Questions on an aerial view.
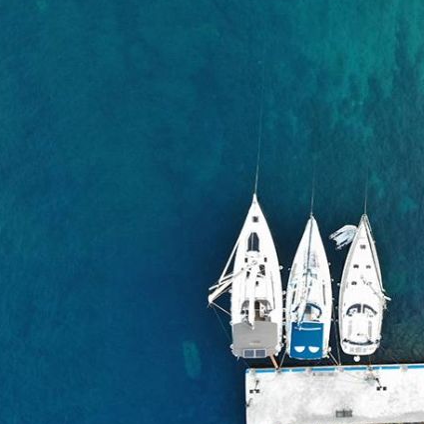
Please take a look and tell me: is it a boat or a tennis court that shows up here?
boat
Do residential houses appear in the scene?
No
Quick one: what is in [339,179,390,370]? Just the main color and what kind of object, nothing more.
white boat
